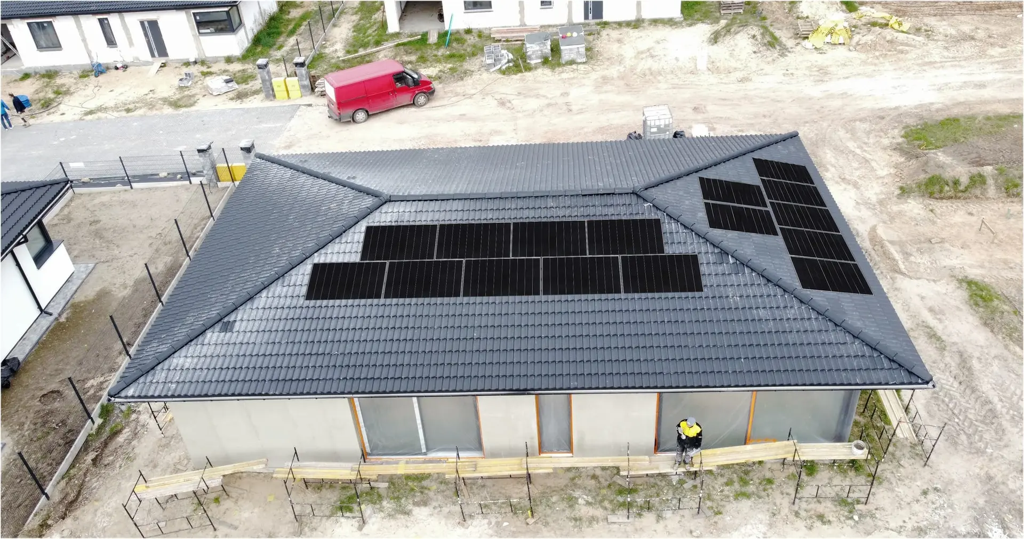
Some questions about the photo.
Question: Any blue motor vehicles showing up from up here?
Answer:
No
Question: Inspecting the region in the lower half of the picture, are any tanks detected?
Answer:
No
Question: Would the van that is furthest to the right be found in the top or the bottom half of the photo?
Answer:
top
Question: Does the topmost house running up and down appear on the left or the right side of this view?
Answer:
left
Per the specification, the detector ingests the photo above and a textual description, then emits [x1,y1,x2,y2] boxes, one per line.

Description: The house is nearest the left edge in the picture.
[0,179,74,361]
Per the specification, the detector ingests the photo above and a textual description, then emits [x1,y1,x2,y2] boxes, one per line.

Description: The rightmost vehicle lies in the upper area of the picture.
[322,56,438,122]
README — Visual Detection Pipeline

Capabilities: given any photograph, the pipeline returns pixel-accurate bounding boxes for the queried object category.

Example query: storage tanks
[640,99,675,138]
